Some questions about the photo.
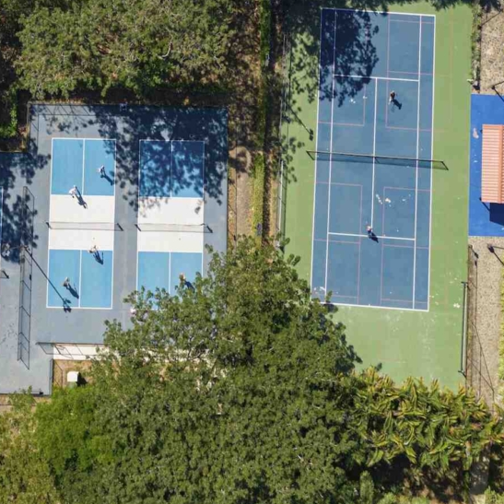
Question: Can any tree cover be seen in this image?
Yes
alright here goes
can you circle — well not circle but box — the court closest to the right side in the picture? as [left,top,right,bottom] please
[275,0,477,409]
